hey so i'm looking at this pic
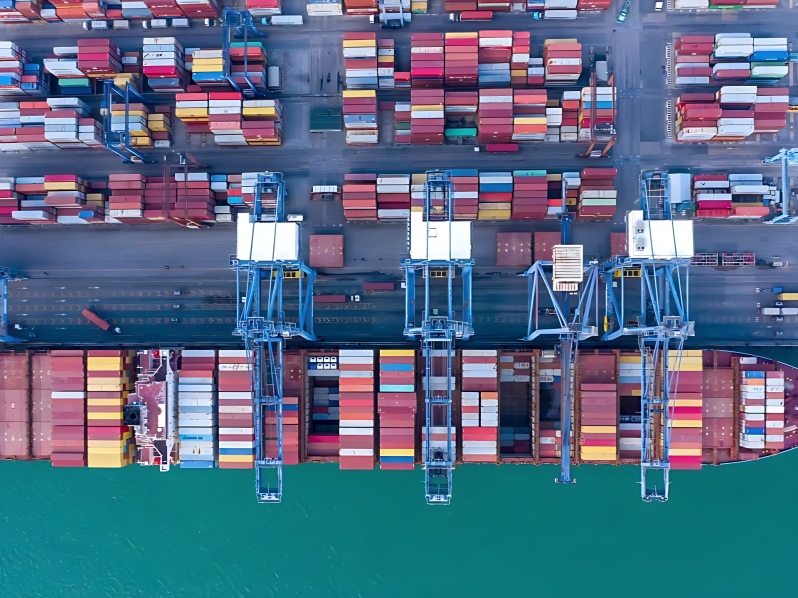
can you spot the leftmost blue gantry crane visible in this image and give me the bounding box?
[0,265,31,338]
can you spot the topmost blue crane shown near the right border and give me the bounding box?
[758,143,798,228]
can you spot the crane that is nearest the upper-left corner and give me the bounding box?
[103,80,159,165]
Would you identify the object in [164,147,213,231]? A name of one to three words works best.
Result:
crane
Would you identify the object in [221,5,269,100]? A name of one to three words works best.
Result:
crane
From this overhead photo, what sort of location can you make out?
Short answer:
port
